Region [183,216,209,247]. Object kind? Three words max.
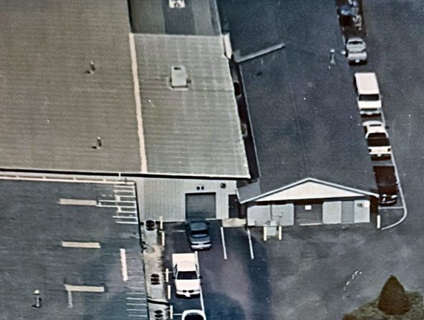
car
